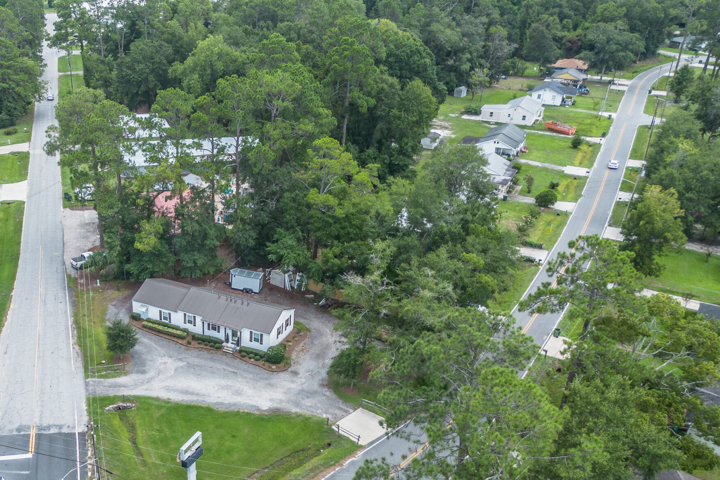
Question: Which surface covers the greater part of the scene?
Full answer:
For the most part, this view shows trees.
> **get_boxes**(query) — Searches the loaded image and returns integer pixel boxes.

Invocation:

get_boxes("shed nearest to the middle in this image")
[269,265,294,288]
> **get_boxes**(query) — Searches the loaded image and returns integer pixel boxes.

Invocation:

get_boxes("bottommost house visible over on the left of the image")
[131,277,292,350]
